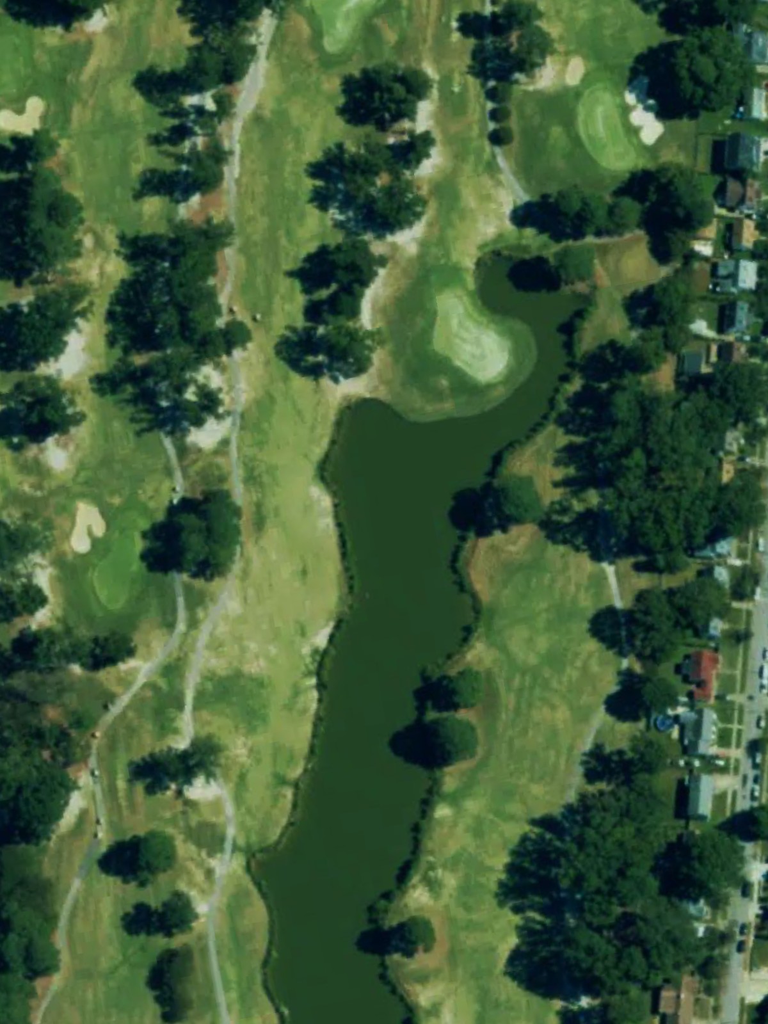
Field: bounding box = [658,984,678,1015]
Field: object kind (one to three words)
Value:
shed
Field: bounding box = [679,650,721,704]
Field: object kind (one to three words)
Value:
house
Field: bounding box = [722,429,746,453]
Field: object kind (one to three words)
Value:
house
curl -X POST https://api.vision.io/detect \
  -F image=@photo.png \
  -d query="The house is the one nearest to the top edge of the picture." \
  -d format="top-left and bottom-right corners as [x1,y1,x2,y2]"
[734,30,768,62]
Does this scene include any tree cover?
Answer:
Yes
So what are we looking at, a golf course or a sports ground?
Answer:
golf course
